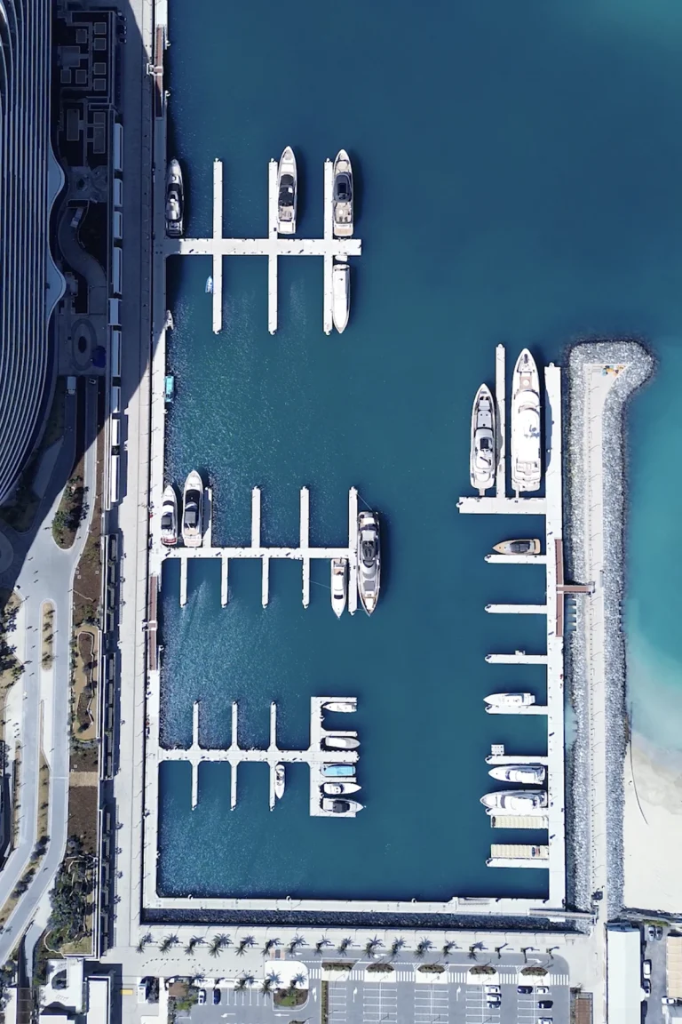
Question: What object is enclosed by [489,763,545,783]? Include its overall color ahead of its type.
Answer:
white boat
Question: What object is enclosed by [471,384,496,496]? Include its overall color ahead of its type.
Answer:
white boat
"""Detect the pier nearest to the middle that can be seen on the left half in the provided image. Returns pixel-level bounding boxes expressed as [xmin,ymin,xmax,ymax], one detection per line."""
[161,485,358,616]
